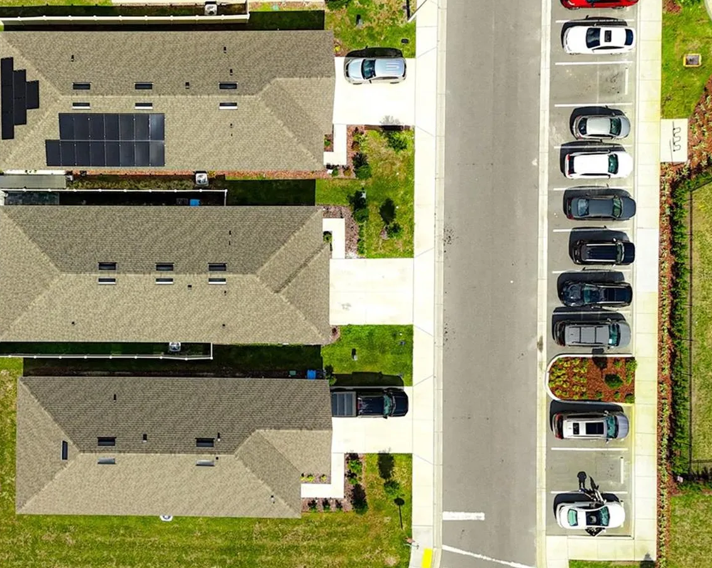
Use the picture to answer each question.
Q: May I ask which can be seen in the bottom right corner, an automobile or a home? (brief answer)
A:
automobile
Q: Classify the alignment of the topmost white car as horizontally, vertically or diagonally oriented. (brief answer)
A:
horizontally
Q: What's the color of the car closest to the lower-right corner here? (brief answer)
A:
white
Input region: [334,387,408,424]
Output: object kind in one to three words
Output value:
truck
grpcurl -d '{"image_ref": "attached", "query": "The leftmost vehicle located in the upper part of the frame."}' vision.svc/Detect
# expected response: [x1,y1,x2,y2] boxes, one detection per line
[344,52,406,86]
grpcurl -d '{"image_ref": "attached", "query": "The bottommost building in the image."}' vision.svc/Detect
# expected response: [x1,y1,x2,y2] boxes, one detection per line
[15,377,337,517]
